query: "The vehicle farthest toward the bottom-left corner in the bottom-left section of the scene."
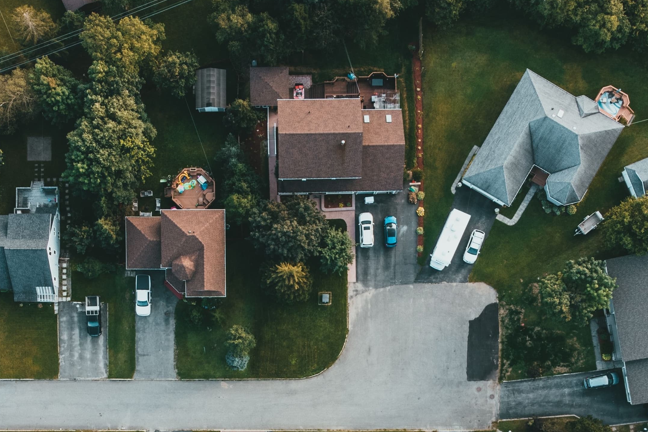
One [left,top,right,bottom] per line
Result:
[84,293,102,337]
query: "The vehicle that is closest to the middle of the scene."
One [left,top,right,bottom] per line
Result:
[358,212,375,248]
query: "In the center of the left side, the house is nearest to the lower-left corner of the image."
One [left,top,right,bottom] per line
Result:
[0,213,57,303]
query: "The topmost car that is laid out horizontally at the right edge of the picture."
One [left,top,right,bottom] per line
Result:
[582,371,619,388]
